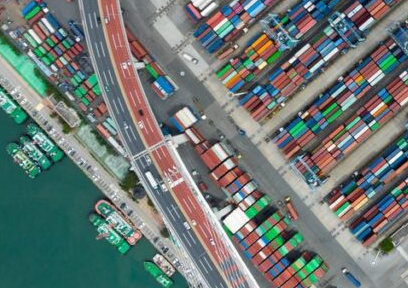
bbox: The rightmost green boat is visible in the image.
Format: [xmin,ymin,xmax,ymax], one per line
[144,262,174,288]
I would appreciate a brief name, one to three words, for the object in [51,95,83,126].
building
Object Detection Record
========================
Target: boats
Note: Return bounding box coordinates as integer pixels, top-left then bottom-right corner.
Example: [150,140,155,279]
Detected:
[90,215,127,253]
[18,135,53,171]
[94,198,141,247]
[144,262,174,288]
[6,143,41,179]
[25,121,64,162]
[0,88,25,125]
